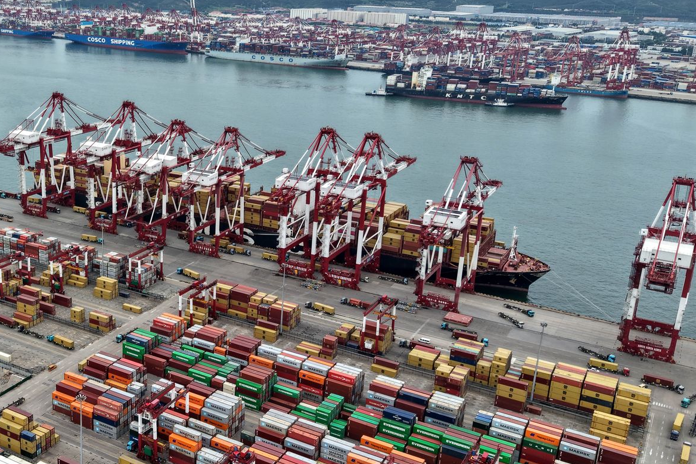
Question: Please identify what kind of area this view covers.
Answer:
port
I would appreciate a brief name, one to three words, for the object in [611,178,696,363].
container crane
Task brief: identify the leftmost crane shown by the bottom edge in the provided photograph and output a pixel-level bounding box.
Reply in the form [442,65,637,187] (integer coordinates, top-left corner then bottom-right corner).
[131,379,191,464]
